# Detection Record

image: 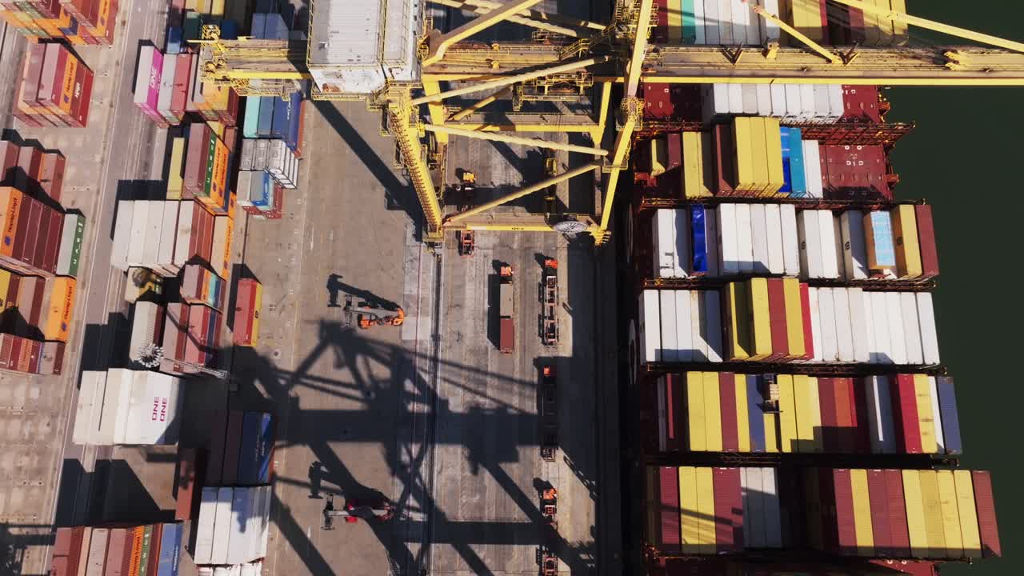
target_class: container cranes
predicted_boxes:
[174,0,1024,263]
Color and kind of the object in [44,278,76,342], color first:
orange shipping container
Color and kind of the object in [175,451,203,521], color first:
red shipping container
